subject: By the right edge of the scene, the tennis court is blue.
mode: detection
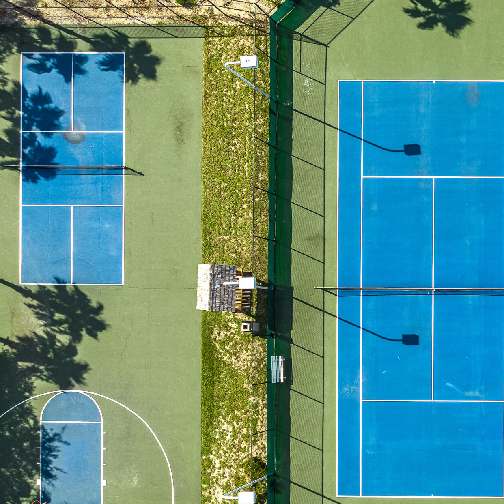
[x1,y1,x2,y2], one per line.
[336,81,504,498]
